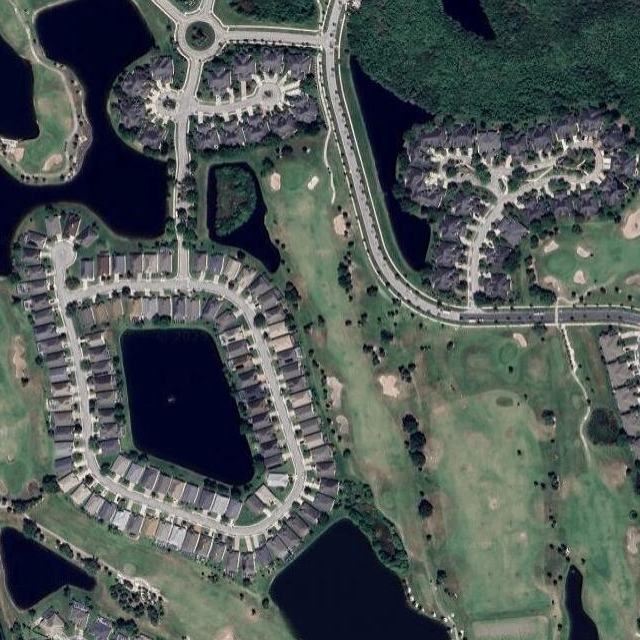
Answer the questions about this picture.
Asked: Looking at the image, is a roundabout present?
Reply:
Yes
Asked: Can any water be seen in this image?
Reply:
Yes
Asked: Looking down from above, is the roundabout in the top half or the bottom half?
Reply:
top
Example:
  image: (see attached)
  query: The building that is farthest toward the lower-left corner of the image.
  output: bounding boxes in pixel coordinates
[39,611,65,638]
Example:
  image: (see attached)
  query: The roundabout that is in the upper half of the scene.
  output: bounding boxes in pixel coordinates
[175,11,225,61]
